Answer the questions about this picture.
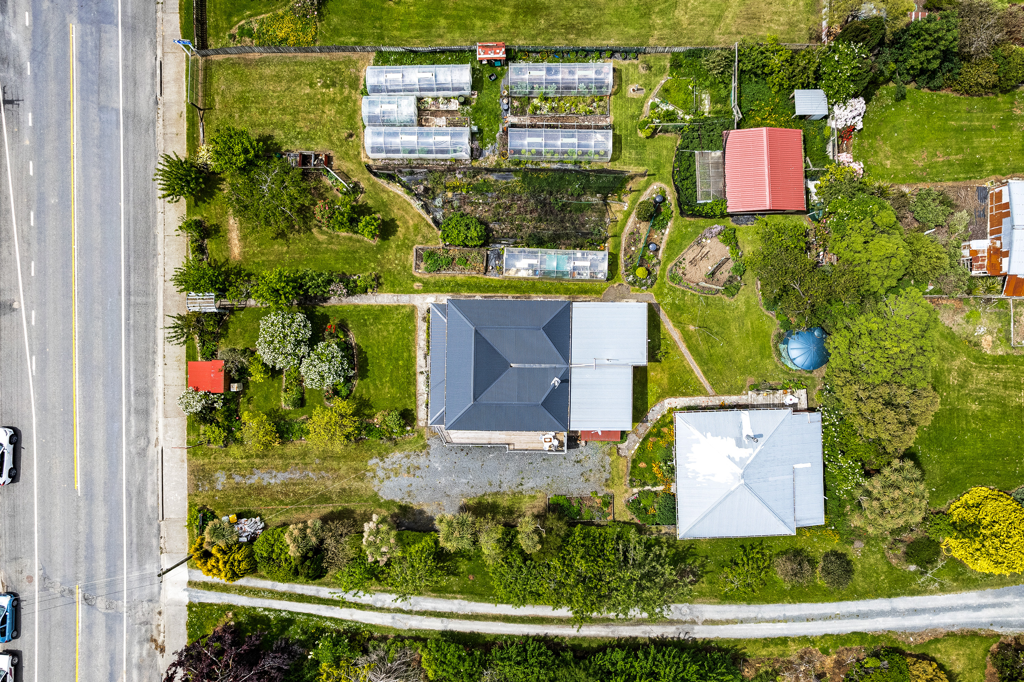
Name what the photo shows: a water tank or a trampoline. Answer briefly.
water tank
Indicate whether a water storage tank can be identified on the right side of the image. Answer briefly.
Yes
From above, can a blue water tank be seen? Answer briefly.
Yes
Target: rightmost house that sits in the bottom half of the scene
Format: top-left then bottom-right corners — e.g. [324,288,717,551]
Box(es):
[671,406,826,541]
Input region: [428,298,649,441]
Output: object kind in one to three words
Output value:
house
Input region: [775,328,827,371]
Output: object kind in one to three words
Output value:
water tank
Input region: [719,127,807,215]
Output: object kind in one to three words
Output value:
shed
